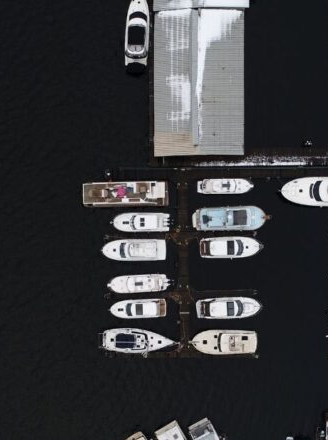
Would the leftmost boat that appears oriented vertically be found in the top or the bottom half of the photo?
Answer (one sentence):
Seen from above, the leftmost boat that appears oriented vertically lies in the top half of the view.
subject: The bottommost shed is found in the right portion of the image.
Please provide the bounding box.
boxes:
[152,9,245,158]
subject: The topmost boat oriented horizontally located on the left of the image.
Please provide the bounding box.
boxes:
[83,181,168,207]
